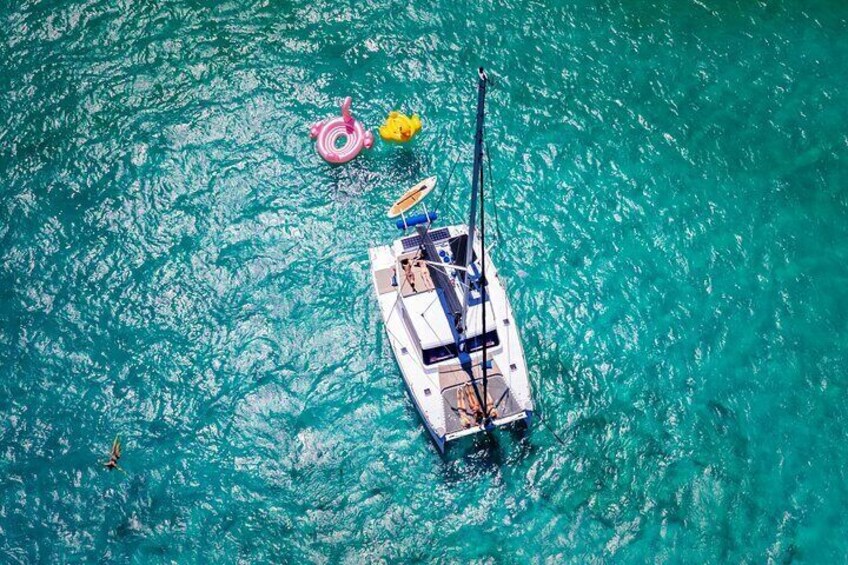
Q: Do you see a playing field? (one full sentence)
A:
No, the scene contains no playing field.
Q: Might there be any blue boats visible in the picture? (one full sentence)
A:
No, this view has no blue boat in it.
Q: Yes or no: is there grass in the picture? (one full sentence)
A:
No, there's no grass in this view.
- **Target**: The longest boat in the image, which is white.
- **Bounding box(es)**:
[368,43,556,454]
